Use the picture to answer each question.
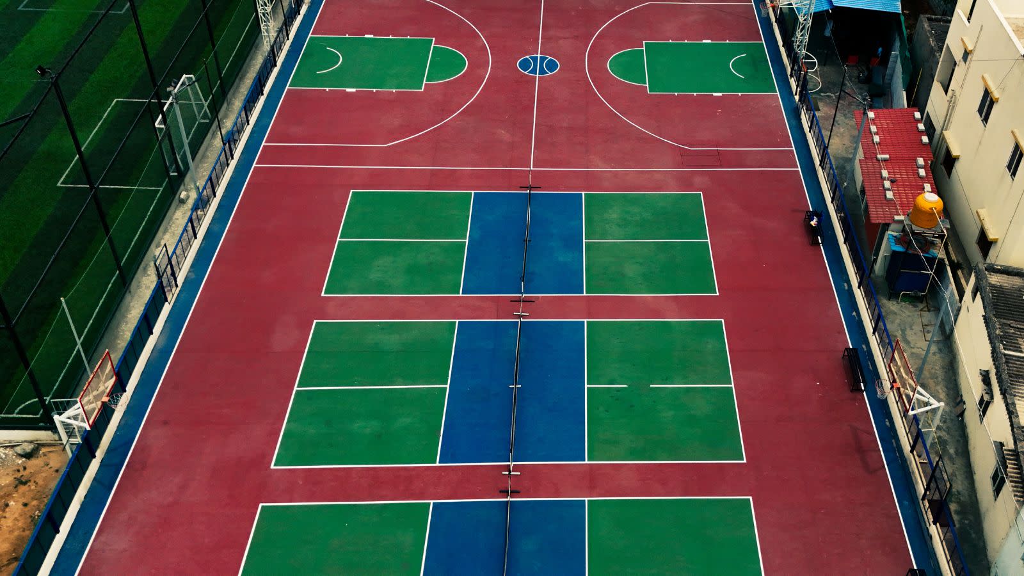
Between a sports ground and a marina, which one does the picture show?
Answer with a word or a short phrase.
sports ground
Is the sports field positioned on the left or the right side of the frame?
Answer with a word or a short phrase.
left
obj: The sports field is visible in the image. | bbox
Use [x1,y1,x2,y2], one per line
[0,0,273,419]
